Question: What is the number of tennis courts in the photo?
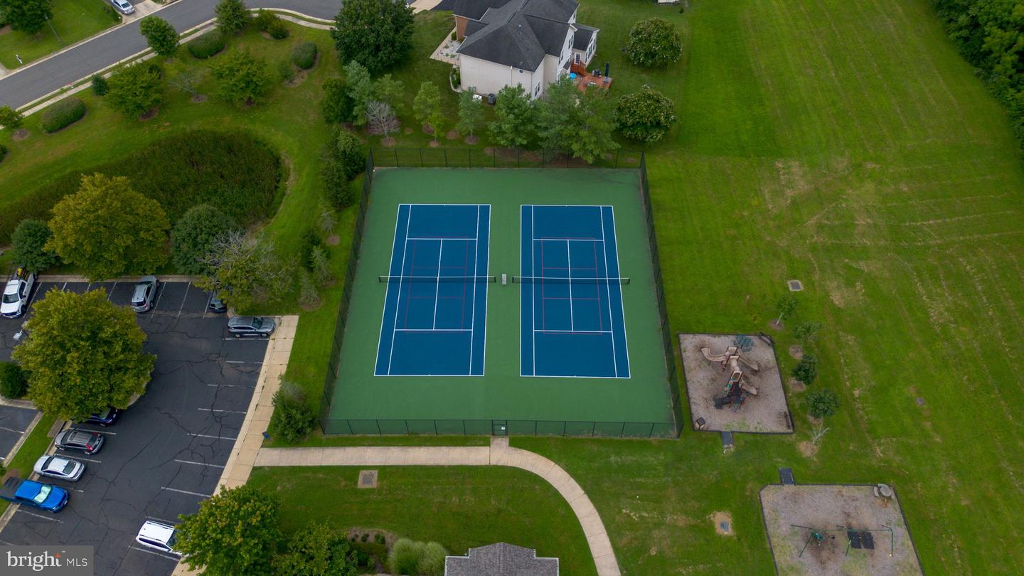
2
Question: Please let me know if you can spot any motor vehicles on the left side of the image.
Yes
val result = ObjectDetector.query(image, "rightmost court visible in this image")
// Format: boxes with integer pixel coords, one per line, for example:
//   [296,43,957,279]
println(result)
[520,205,630,378]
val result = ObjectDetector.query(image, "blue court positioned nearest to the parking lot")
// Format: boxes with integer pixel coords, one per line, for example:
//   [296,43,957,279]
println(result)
[374,204,490,376]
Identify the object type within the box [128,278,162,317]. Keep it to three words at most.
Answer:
car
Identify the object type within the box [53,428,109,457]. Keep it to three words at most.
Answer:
car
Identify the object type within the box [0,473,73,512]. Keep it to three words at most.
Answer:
vehicle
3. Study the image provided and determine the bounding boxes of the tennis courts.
[520,205,630,378]
[374,204,490,376]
